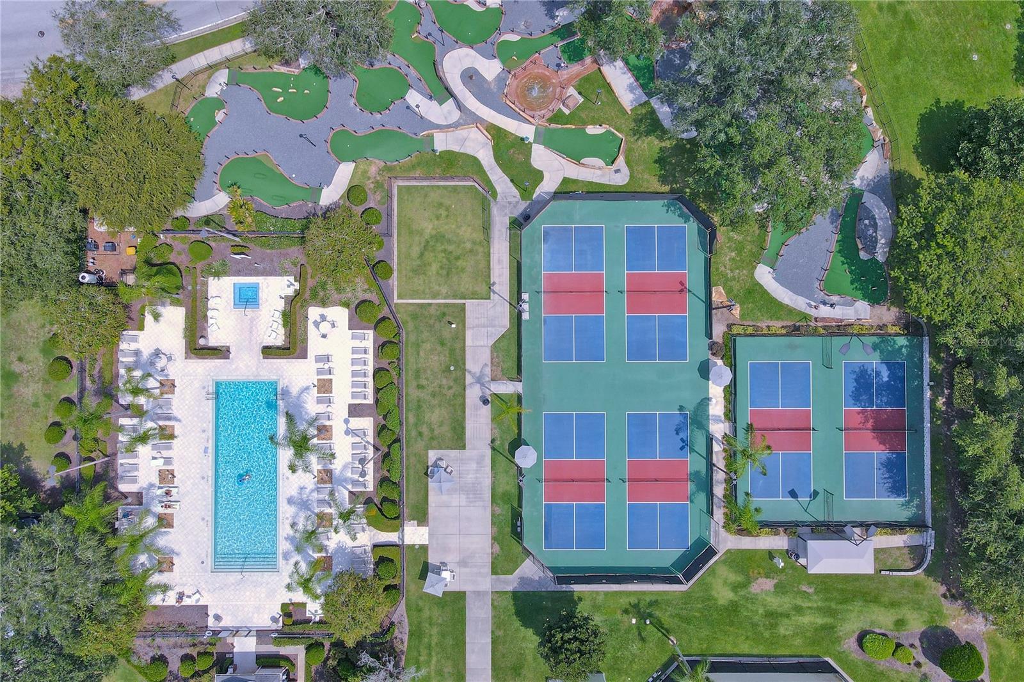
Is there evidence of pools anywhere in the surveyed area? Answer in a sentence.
Yes, there is a pool in the image.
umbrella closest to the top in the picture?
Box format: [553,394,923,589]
[708,364,731,387]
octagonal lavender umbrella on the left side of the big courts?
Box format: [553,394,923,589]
[515,445,537,467]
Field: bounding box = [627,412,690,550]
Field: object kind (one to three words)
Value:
sports court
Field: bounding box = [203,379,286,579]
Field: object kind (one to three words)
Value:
swimming pool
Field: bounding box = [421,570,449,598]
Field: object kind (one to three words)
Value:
umbrella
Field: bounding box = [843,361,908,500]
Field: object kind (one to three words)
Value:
sports court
